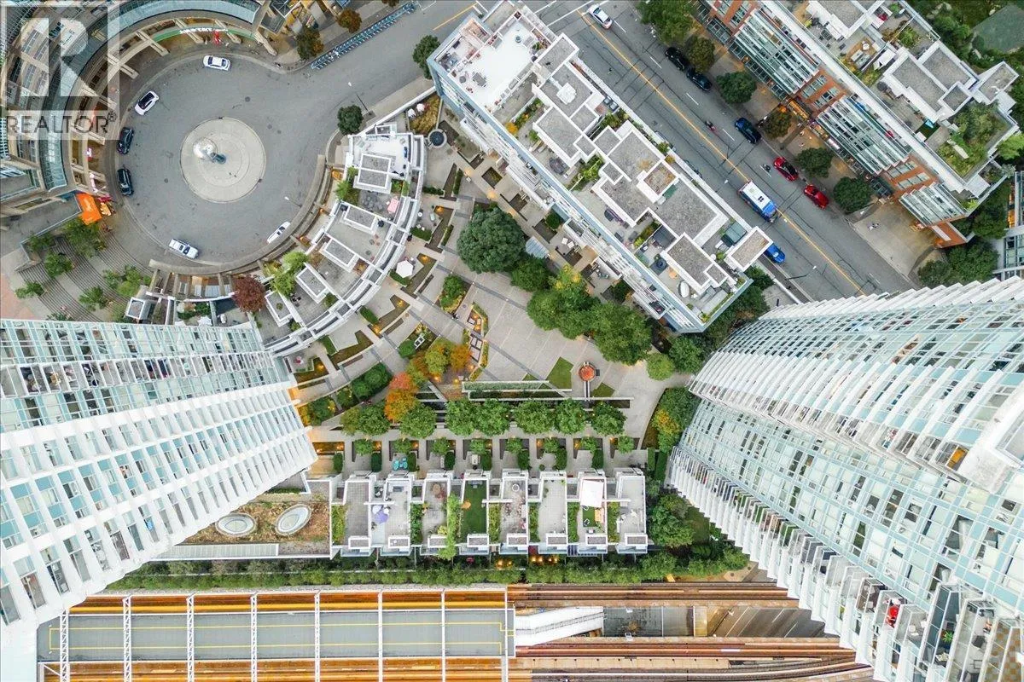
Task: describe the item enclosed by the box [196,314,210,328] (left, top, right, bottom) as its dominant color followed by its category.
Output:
white umbrella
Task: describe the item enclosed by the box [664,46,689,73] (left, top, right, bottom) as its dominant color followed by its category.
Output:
black car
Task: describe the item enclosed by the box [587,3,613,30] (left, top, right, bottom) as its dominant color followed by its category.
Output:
white car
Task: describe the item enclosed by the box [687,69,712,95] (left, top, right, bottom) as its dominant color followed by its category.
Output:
black car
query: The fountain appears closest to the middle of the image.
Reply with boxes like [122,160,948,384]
[577,361,600,400]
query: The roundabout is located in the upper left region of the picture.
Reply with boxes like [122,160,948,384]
[120,57,325,262]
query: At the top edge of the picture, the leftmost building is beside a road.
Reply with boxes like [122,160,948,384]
[0,0,313,258]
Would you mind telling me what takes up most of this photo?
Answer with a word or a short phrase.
buildings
